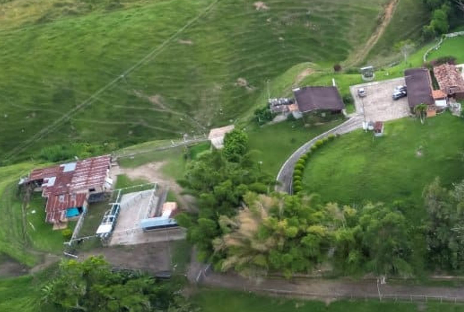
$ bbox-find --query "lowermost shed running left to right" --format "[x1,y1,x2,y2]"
[141,213,183,236]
